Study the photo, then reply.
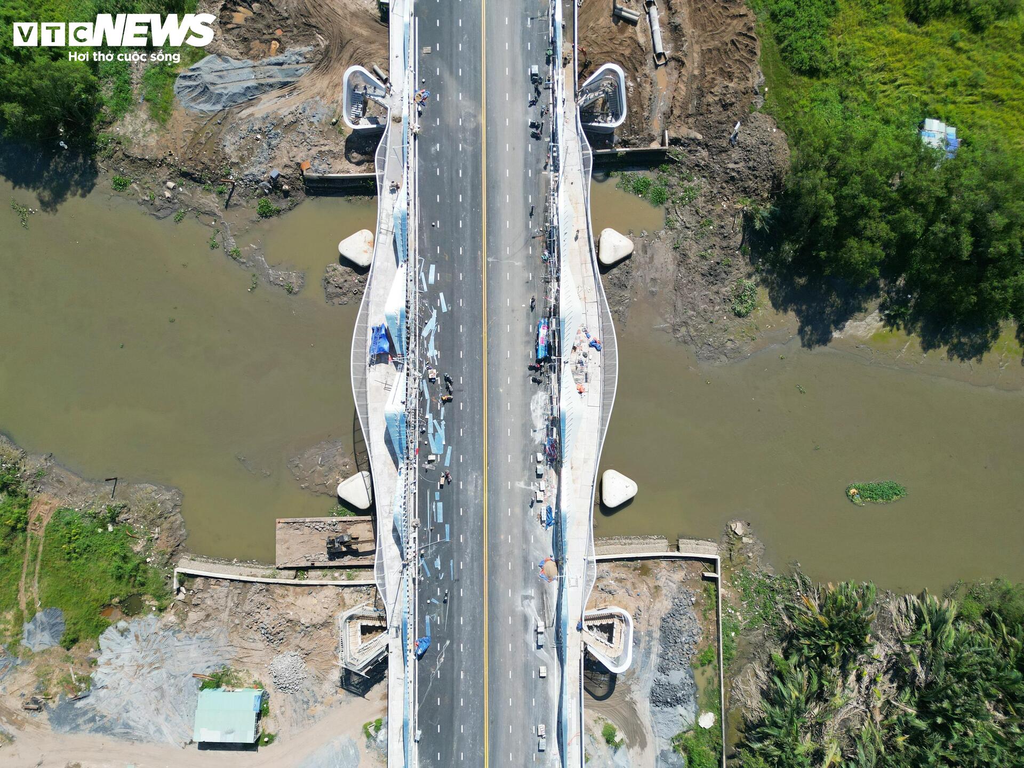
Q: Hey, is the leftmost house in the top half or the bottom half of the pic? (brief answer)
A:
bottom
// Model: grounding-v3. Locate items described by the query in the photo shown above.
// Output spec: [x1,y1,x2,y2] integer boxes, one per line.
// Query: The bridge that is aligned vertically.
[350,0,619,768]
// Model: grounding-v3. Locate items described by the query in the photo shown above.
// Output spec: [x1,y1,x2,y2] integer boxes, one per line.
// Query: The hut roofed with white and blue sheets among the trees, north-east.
[921,118,961,156]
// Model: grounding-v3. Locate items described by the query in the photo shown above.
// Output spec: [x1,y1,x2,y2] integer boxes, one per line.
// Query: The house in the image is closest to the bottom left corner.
[194,685,265,742]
